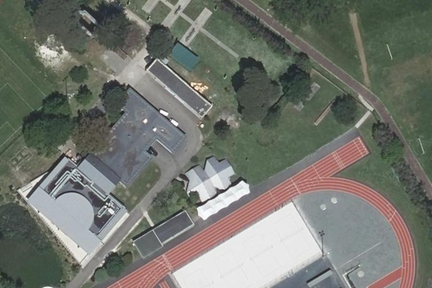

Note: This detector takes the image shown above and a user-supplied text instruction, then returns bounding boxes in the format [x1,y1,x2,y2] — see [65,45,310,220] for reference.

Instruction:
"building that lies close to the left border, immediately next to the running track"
[16,154,130,265]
